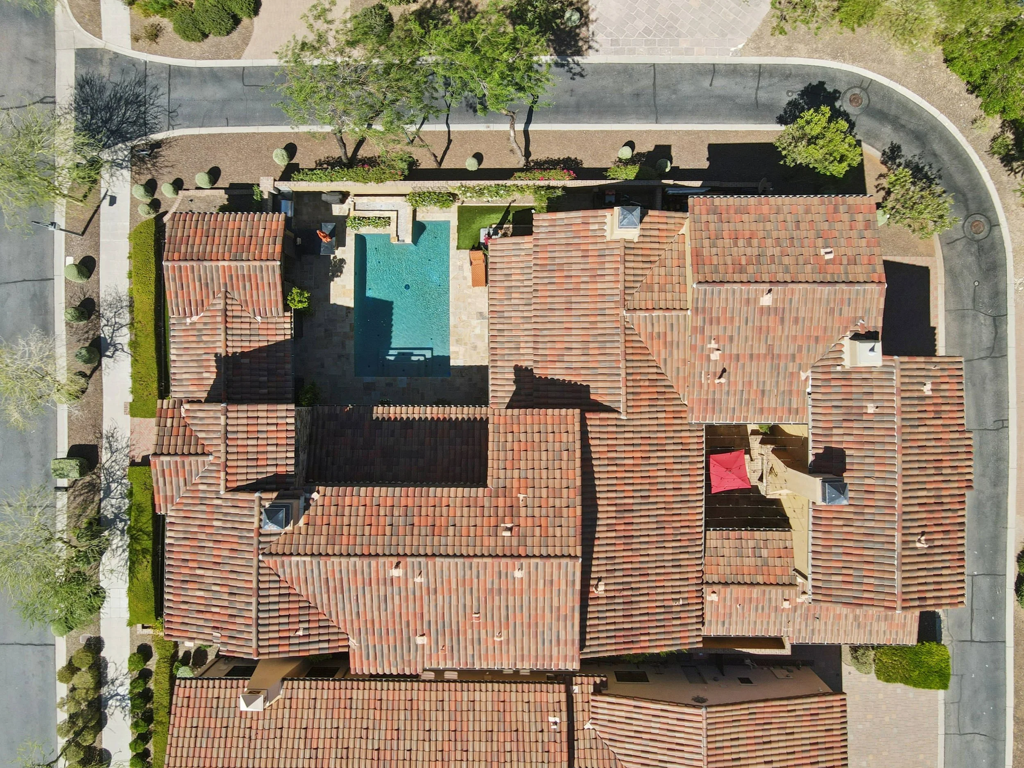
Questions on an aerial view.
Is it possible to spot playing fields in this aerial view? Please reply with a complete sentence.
No, the scene contains no playing field.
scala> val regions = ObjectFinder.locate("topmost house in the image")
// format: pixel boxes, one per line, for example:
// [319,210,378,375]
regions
[148,193,976,676]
